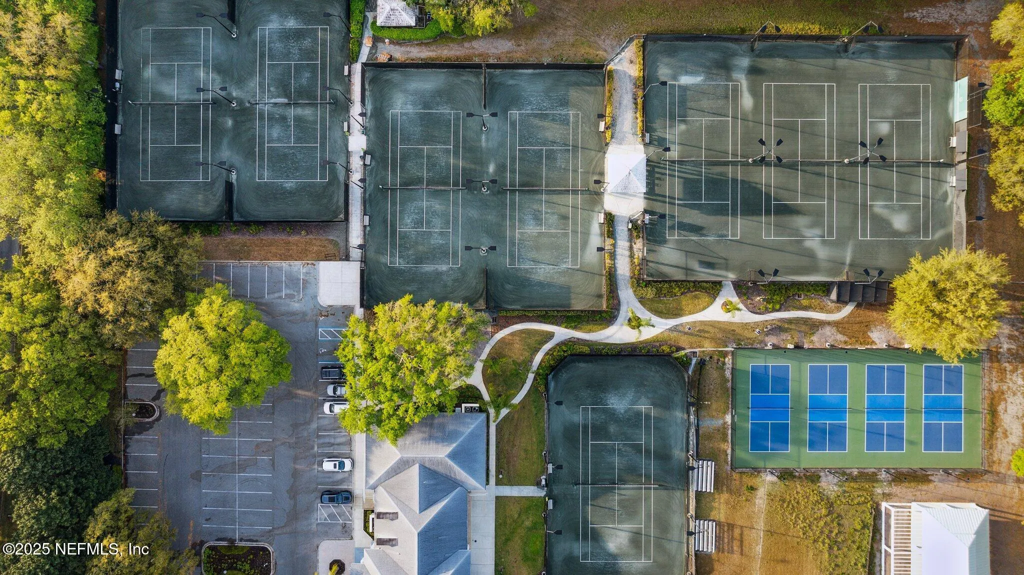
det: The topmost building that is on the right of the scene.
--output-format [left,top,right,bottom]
[606,154,647,193]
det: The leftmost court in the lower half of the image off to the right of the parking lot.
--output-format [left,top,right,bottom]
[547,356,690,575]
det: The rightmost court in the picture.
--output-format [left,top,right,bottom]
[923,364,963,452]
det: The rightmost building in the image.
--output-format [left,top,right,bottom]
[911,503,989,575]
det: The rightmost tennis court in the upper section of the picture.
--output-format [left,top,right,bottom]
[847,42,956,281]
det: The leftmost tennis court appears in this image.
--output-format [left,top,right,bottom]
[118,0,234,220]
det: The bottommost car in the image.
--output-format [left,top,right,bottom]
[321,489,352,506]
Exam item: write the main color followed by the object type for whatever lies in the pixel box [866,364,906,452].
blue sports court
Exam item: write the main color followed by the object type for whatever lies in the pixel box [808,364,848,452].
blue sports court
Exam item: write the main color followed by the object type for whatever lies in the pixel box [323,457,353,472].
white car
